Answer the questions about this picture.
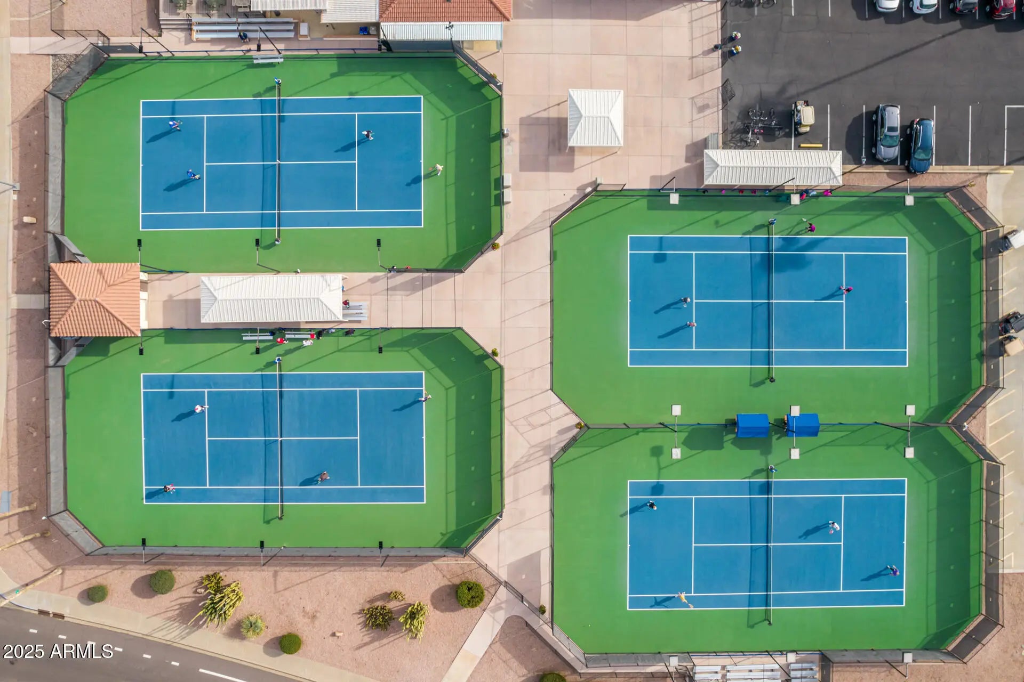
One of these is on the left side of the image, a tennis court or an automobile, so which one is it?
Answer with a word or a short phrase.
tennis court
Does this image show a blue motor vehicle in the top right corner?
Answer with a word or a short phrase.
Yes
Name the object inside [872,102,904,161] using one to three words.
car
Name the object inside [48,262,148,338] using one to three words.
building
